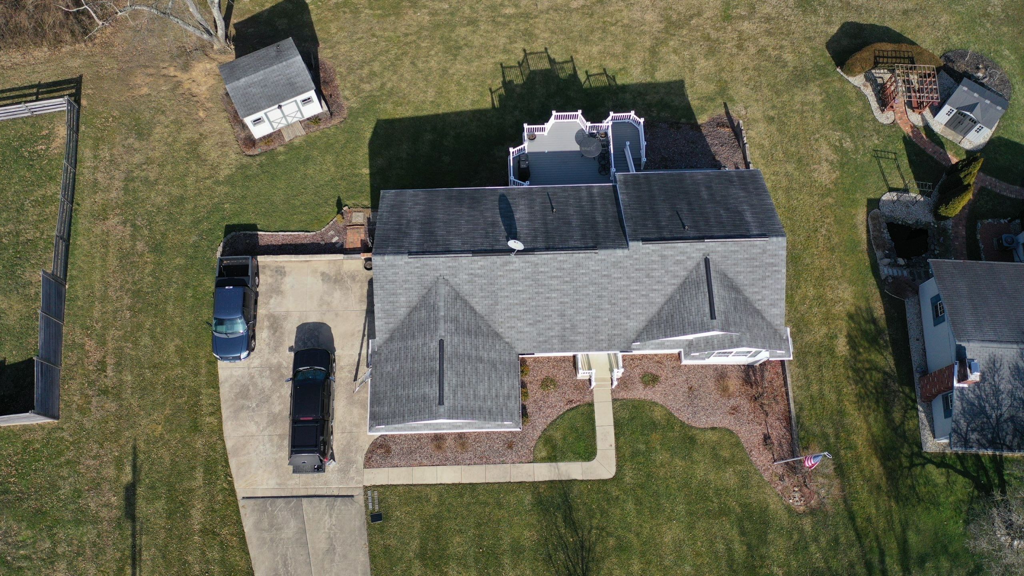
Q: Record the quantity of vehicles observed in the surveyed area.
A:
2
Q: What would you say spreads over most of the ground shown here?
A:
grass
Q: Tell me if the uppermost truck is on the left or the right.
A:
left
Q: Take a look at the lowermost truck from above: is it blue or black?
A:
black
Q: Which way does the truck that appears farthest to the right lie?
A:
from top to bottom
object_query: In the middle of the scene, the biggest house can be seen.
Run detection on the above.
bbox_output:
[365,165,797,439]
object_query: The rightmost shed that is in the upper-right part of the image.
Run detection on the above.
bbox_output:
[934,79,1009,142]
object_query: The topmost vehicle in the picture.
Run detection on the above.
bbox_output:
[206,250,260,362]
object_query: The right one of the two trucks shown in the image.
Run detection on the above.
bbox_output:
[285,347,337,474]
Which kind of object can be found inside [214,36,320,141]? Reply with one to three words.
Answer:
shed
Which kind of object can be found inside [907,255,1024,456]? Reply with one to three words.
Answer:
house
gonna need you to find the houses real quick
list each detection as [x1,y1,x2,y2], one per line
[365,165,797,439]
[907,255,1024,456]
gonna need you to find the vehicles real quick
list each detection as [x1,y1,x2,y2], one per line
[206,250,260,362]
[285,347,337,474]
